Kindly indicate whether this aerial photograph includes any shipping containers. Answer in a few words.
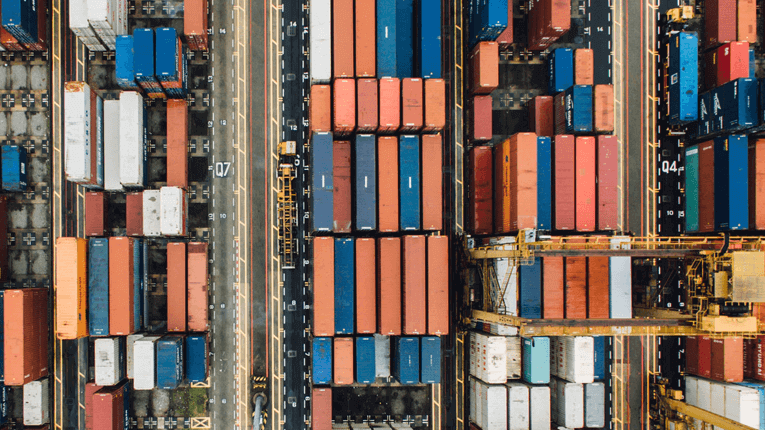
Yes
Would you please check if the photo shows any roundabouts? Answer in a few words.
No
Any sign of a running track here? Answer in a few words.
No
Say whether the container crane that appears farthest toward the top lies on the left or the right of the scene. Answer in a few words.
right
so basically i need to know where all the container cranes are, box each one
[644,375,765,430]
[453,227,765,345]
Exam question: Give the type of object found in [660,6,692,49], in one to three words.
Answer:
truck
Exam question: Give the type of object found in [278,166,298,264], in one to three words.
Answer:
trailer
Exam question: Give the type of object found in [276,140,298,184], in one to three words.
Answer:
truck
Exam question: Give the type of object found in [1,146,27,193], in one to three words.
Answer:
shipping container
